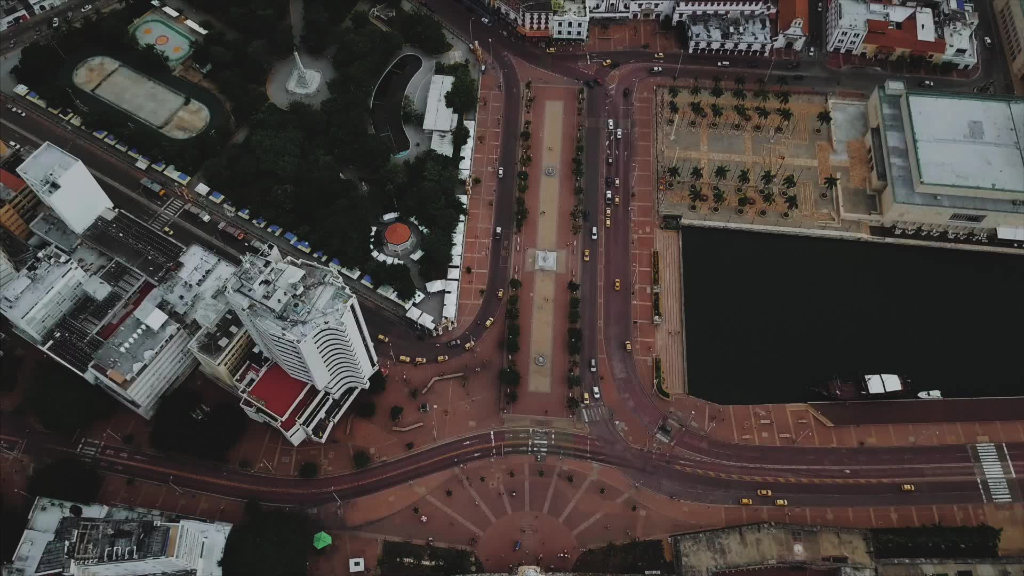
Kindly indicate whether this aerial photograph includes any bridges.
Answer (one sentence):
No, there isn't any bridge down there.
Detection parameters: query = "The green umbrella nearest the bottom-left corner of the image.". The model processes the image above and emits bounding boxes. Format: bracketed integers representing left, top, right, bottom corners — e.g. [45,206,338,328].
[315,530,331,550]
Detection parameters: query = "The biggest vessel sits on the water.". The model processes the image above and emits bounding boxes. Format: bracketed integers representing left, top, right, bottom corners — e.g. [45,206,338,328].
[817,373,915,400]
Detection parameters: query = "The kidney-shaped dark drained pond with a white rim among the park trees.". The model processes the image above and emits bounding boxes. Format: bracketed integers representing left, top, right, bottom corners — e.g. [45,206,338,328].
[370,53,423,157]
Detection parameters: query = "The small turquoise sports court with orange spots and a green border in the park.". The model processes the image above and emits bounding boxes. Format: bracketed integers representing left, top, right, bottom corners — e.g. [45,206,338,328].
[127,8,199,68]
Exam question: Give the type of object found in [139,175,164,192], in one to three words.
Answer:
vehicle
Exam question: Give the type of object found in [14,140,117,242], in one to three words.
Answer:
building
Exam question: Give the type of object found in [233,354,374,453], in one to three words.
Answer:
building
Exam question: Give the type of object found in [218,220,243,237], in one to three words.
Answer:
vehicle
